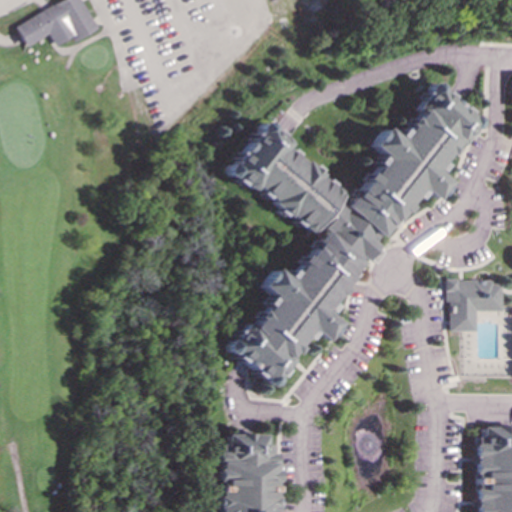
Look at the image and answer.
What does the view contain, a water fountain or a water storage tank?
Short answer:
water fountain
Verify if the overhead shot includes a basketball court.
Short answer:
No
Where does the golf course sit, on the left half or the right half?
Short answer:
left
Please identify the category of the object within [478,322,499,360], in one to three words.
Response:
swimming pool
